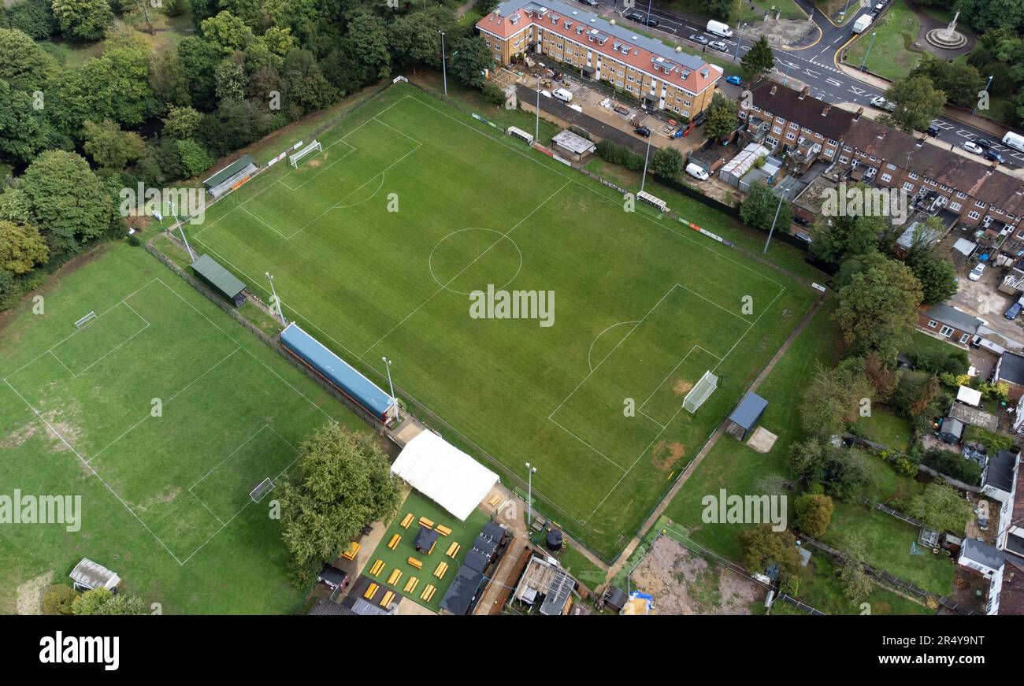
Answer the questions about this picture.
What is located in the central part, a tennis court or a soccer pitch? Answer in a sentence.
Looking in the central part, you will find a soccer pitch.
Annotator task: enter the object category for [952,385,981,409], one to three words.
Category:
gazebo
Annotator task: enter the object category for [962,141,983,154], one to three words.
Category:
vehicle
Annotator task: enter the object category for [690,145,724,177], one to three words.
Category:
building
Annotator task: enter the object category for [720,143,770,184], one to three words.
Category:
shed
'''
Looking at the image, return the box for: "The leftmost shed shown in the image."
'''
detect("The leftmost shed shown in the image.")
[69,557,122,594]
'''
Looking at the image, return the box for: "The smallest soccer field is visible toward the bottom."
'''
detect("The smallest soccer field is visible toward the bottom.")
[5,277,339,564]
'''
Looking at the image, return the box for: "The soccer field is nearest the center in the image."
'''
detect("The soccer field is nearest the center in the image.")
[169,81,821,557]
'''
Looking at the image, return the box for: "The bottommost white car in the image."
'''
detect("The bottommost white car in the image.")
[967,263,988,279]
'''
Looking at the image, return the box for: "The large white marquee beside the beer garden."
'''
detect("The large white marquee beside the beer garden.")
[389,417,501,519]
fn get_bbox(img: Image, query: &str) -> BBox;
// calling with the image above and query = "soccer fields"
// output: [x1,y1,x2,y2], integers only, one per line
[5,277,339,564]
[169,81,821,557]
